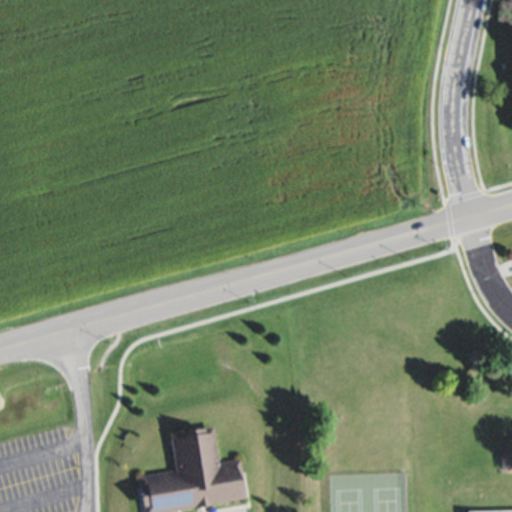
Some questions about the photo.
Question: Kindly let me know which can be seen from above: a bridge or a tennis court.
tennis court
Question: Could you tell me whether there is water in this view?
No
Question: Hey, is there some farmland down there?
Yes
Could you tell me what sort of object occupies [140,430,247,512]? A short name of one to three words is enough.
building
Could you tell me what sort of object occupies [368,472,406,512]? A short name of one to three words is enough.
tennis court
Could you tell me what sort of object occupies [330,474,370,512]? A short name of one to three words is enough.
tennis court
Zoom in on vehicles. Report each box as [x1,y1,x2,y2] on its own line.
[480,0,487,12]
[464,136,470,148]
[475,18,482,30]
[463,87,470,99]
[412,222,424,228]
